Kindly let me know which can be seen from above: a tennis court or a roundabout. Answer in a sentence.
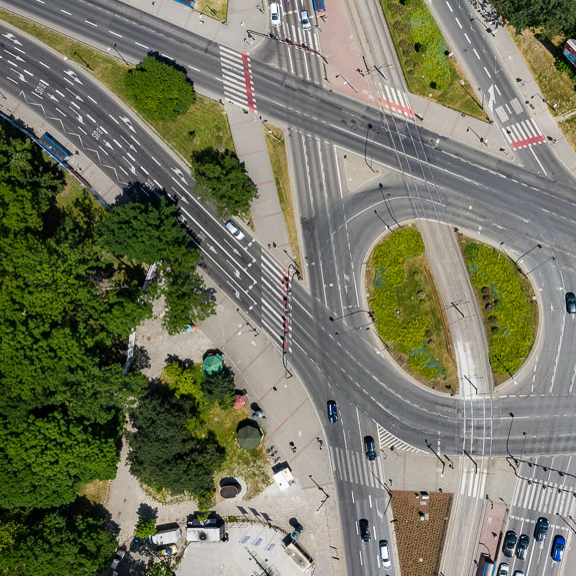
Visible in the photo is a roundabout.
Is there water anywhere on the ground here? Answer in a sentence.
No, the picture contains no water.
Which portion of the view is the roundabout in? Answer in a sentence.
The roundabout is located in the right region of the scene.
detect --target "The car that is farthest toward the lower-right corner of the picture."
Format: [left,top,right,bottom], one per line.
[552,533,566,561]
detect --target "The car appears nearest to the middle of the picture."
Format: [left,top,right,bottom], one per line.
[225,221,246,241]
